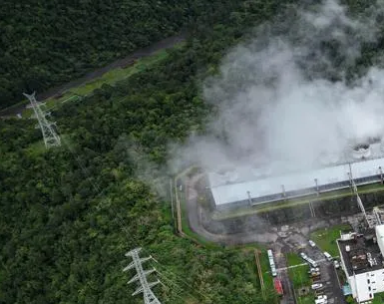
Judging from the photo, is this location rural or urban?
rural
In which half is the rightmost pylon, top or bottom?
bottom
